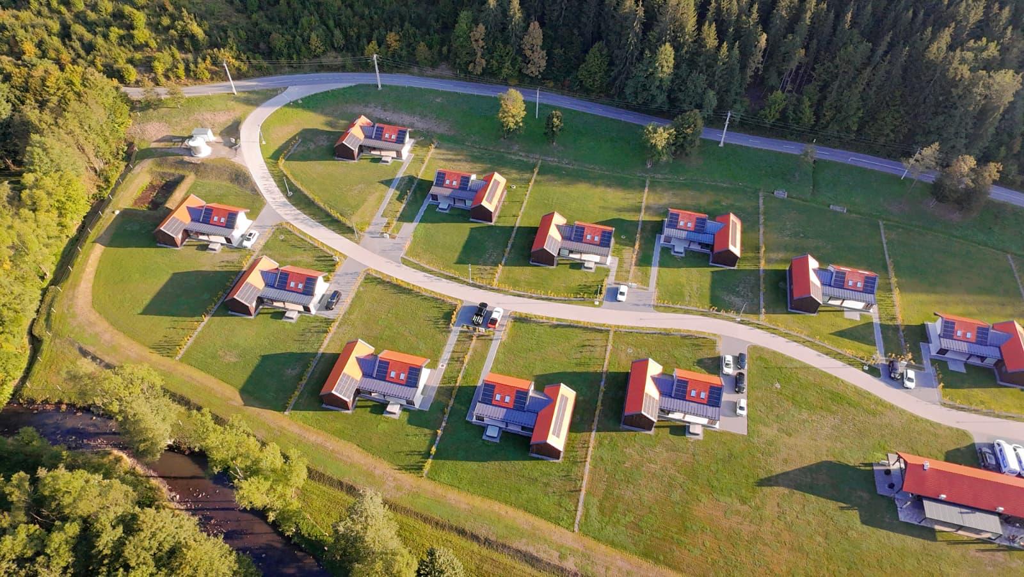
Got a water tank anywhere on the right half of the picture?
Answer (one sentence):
No, the scene shows no water tank on the right half of the picture.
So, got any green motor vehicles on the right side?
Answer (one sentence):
No, looking on the right side, there is no green motor vehicle.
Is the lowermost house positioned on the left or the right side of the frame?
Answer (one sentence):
The lowermost house appears in the right half of the scene.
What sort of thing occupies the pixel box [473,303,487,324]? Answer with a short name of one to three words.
vehicle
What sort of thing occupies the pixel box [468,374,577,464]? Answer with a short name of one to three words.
house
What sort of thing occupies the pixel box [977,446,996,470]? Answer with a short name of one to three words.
car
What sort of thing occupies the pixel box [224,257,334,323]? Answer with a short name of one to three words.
house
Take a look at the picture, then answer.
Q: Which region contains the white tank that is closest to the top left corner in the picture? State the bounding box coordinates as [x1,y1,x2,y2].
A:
[187,134,214,159]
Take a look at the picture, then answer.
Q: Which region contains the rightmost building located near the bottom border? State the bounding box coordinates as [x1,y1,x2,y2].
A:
[873,452,1024,550]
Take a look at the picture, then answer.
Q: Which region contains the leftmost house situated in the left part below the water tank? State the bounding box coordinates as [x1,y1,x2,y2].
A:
[153,195,255,251]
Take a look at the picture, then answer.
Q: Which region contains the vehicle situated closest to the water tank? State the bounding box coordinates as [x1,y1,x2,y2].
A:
[244,230,258,246]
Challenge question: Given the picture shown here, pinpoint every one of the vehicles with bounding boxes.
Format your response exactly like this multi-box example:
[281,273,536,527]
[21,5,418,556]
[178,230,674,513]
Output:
[887,356,903,379]
[903,368,916,389]
[736,352,748,371]
[734,372,747,394]
[991,441,1020,474]
[325,291,342,309]
[722,354,734,375]
[735,396,747,418]
[244,230,258,246]
[489,310,502,327]
[618,284,628,301]
[977,446,996,470]
[473,303,487,324]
